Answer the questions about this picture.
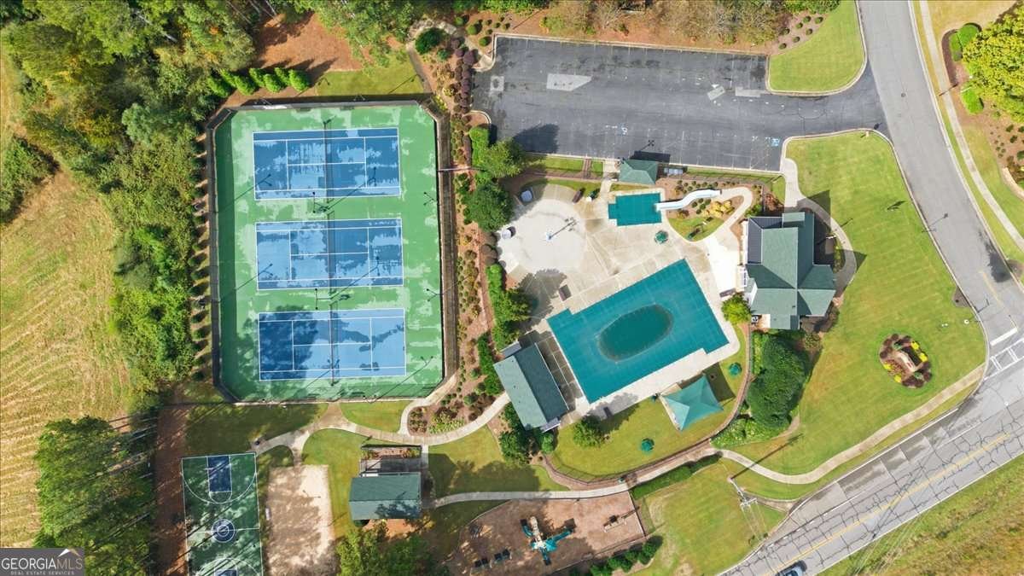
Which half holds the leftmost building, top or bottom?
bottom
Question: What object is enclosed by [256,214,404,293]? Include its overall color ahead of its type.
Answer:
blue tennis court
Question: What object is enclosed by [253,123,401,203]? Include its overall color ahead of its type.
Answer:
blue tennis court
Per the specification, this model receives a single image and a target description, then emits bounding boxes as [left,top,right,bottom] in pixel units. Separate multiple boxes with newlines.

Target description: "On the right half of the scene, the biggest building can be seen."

[736,212,838,330]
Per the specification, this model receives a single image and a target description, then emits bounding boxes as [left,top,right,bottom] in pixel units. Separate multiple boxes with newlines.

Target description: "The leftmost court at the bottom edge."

[181,452,265,576]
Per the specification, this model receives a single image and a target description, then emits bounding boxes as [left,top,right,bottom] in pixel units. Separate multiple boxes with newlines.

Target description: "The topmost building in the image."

[617,160,658,185]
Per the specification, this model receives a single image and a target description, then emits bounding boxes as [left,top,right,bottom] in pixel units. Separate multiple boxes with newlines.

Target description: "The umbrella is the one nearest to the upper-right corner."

[654,230,668,244]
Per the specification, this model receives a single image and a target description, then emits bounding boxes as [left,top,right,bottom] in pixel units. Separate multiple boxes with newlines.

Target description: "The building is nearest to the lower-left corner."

[347,473,421,521]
